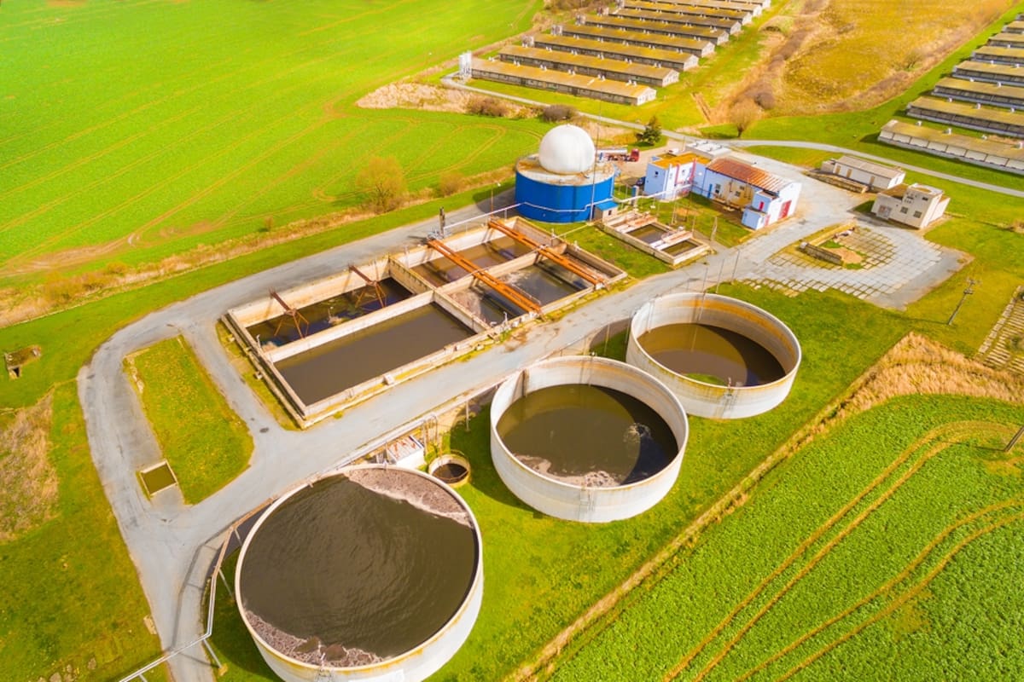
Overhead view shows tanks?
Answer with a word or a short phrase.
Yes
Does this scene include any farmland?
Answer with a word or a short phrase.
Yes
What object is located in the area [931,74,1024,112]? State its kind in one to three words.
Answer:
barn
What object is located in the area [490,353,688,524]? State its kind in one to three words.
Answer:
storage tank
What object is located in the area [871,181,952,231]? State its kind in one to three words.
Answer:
building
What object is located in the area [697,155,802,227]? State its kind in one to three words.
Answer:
building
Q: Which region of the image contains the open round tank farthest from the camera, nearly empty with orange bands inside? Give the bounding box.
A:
[627,289,801,420]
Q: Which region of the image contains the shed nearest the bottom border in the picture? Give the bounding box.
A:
[384,431,425,467]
